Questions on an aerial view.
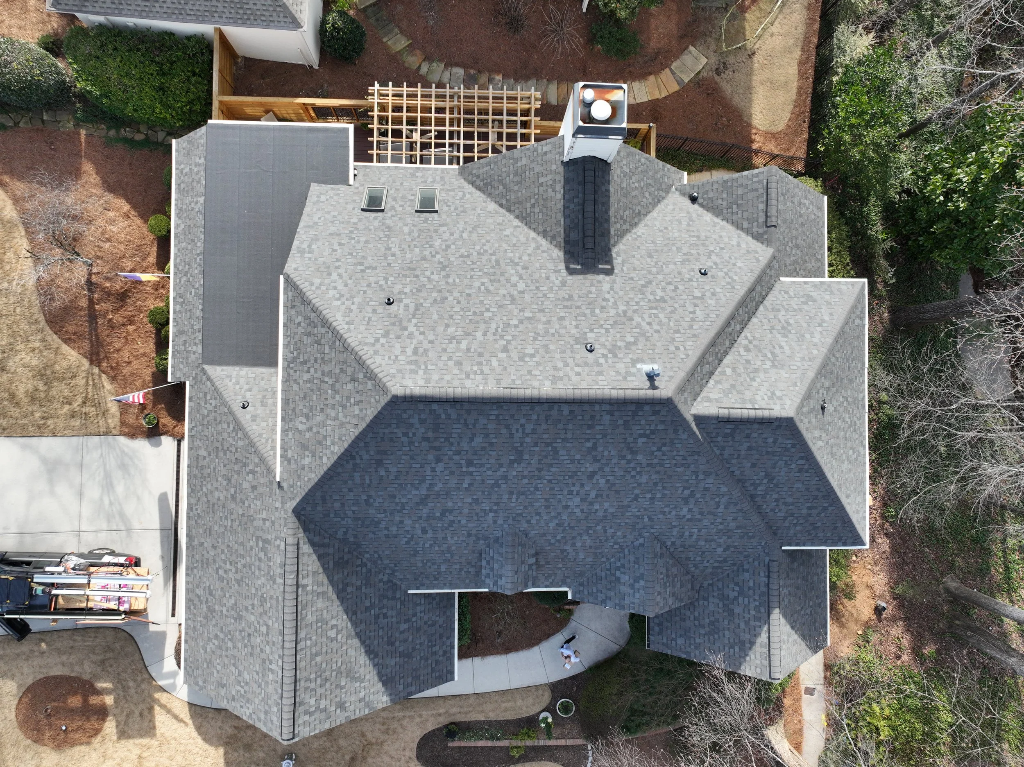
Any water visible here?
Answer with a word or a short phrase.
No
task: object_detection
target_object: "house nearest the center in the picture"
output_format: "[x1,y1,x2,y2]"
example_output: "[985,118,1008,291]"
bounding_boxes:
[166,81,873,749]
